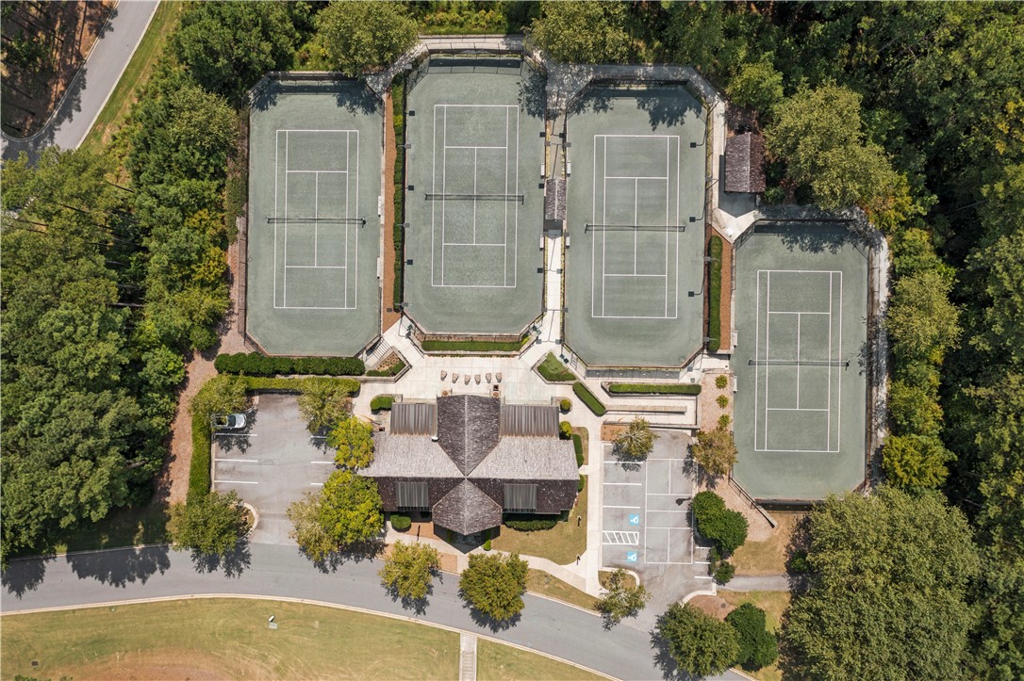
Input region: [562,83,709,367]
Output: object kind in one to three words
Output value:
tennis court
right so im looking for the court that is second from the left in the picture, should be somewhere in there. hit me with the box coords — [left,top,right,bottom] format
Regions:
[403,53,546,335]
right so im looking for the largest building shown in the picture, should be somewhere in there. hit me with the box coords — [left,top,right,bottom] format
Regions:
[359,394,579,535]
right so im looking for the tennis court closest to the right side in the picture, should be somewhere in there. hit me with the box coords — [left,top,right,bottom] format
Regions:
[730,218,872,501]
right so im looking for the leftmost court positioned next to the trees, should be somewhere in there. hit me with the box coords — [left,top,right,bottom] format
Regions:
[244,80,385,357]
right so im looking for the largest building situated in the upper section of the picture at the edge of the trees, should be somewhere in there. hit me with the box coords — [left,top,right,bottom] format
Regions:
[721,131,766,193]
